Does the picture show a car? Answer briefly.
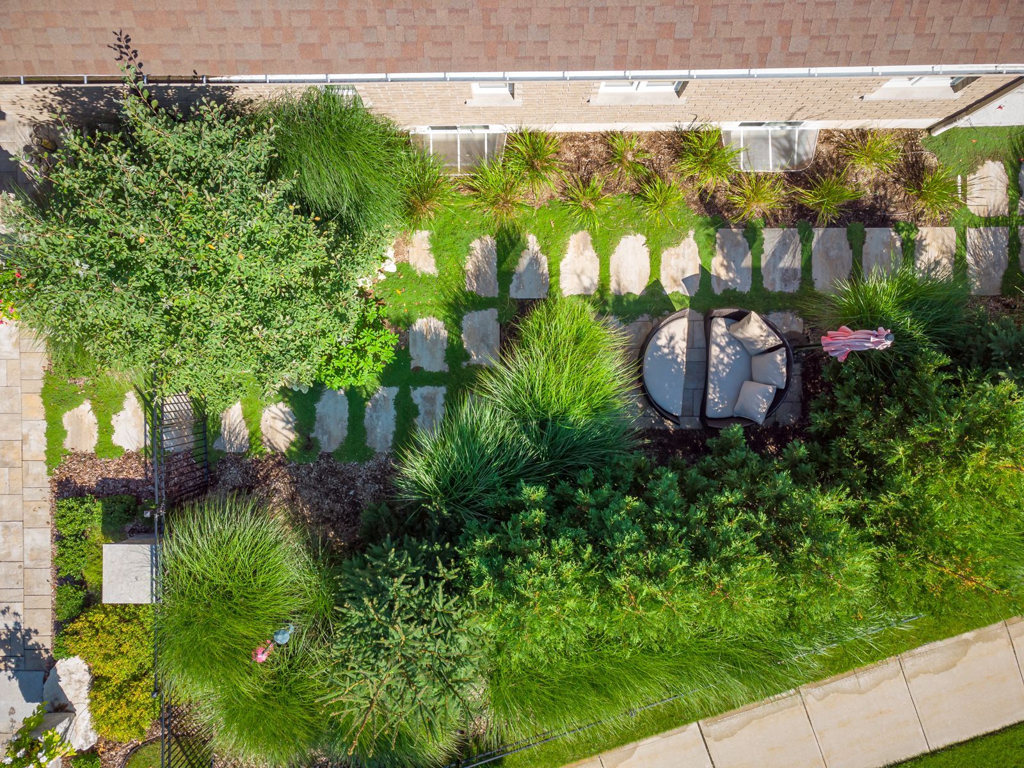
No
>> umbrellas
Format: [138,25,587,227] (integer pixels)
[788,323,891,364]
